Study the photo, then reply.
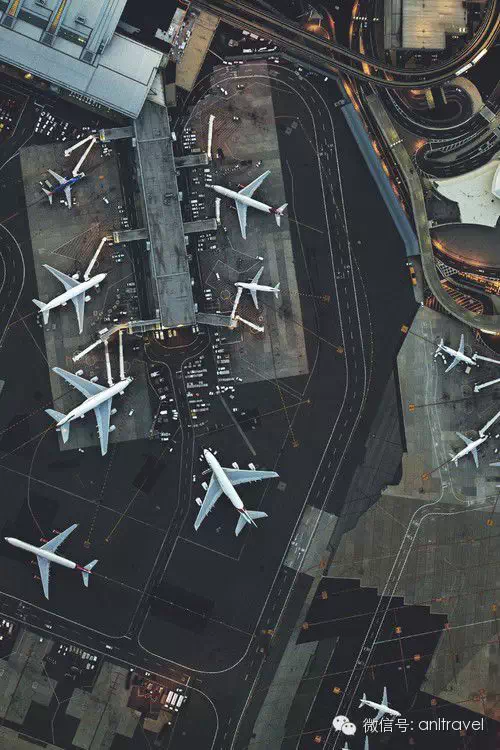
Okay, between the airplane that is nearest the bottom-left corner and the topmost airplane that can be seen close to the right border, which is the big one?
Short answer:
the airplane that is nearest the bottom-left corner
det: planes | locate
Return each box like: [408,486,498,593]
[448,433,488,467]
[195,450,280,532]
[48,369,133,456]
[359,689,400,724]
[42,170,82,209]
[436,335,476,371]
[35,264,107,333]
[212,170,287,238]
[5,523,94,600]
[235,266,280,309]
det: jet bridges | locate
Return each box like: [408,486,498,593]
[477,412,500,436]
[73,137,100,178]
[474,378,500,394]
[214,196,222,224]
[104,341,113,387]
[471,353,500,363]
[63,134,97,158]
[83,235,109,279]
[119,331,126,379]
[70,338,105,364]
[234,284,243,324]
[208,113,215,160]
[235,315,266,334]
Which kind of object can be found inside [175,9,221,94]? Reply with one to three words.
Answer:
building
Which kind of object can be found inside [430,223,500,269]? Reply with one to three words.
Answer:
building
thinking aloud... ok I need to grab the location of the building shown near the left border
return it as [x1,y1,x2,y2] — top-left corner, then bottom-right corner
[0,0,165,125]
